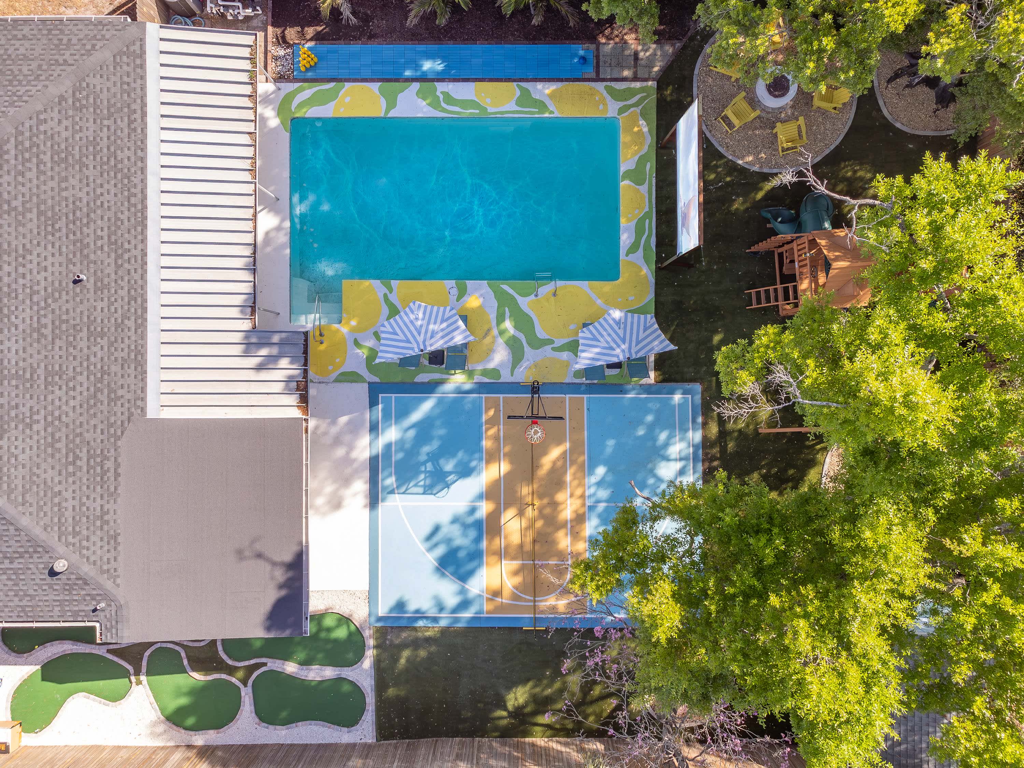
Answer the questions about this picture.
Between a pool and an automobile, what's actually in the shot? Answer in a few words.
pool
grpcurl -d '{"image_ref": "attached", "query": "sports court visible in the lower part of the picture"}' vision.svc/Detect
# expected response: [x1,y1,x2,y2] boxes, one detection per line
[369,383,701,627]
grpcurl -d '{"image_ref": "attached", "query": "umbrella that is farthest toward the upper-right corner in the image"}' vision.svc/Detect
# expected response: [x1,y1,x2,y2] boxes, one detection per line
[572,309,677,370]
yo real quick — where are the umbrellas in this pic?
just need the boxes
[572,309,677,370]
[373,301,478,366]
